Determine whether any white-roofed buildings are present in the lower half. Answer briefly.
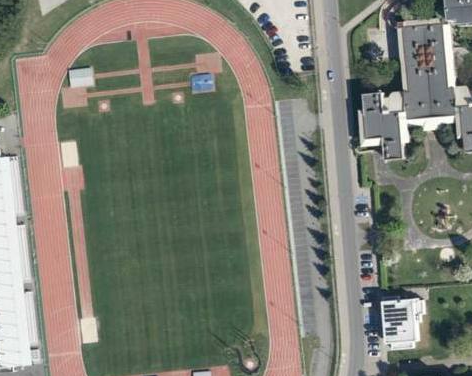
Yes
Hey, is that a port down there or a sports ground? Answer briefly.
sports ground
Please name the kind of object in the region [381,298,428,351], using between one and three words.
building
